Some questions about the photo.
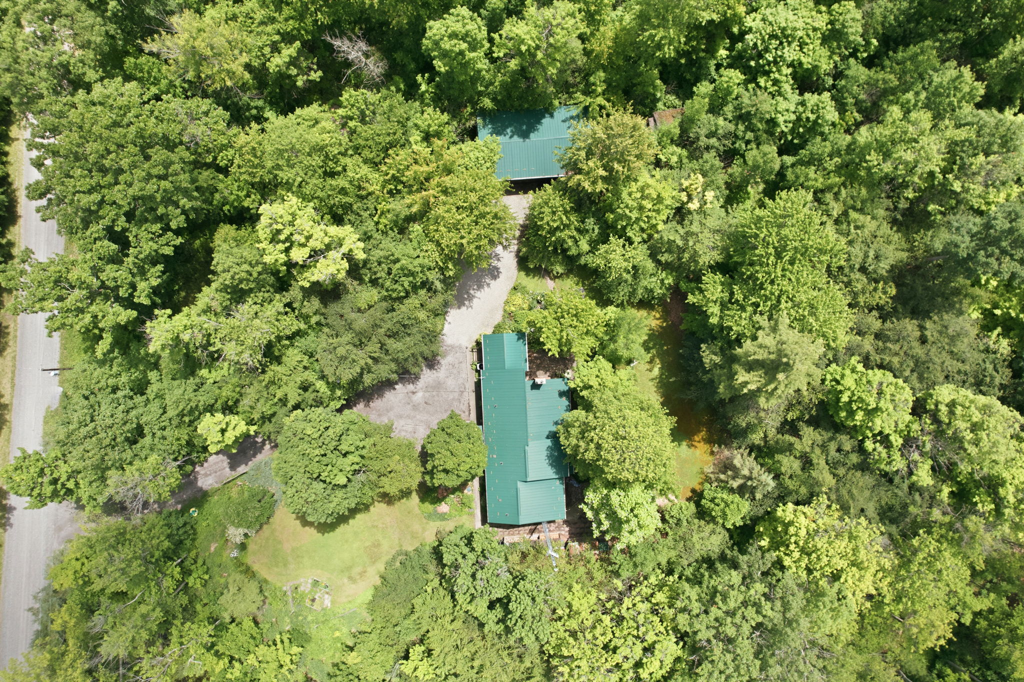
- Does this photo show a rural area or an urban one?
rural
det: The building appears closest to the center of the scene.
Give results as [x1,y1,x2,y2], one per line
[474,333,576,525]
